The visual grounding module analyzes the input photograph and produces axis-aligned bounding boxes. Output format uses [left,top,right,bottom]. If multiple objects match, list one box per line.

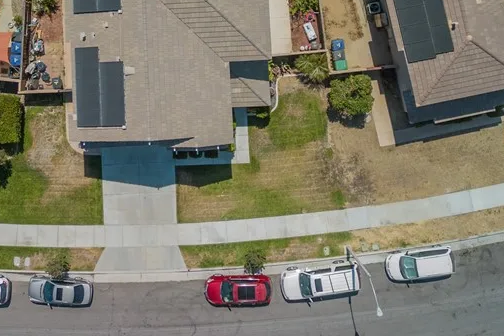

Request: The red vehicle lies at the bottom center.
[204,272,270,309]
